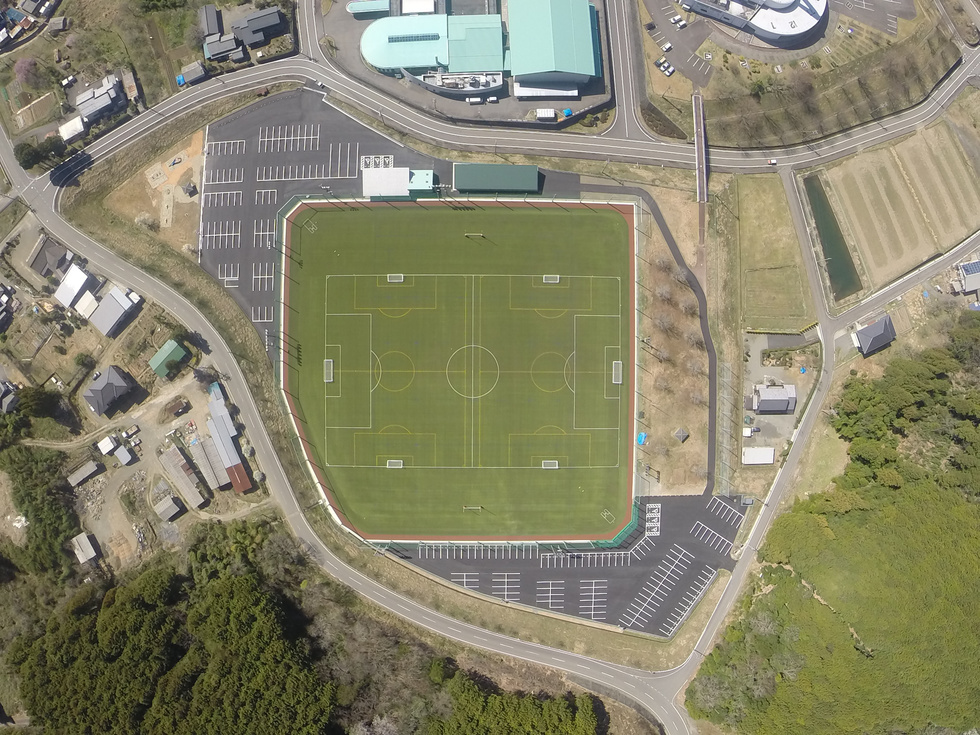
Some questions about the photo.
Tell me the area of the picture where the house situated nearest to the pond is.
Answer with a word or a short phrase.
right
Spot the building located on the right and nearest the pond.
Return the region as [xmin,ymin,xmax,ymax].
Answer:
[847,314,898,355]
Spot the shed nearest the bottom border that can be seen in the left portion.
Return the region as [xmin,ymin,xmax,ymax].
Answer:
[73,531,101,564]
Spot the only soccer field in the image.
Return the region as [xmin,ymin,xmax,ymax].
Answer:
[283,202,634,541]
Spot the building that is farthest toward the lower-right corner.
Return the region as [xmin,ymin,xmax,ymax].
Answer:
[741,447,774,464]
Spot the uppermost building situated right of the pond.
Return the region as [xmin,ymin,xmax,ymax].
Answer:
[946,258,980,292]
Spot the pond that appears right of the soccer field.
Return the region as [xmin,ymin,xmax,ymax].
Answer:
[803,174,863,302]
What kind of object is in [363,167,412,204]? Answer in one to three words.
building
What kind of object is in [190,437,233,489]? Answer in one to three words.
barn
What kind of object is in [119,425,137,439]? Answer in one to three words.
vehicle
